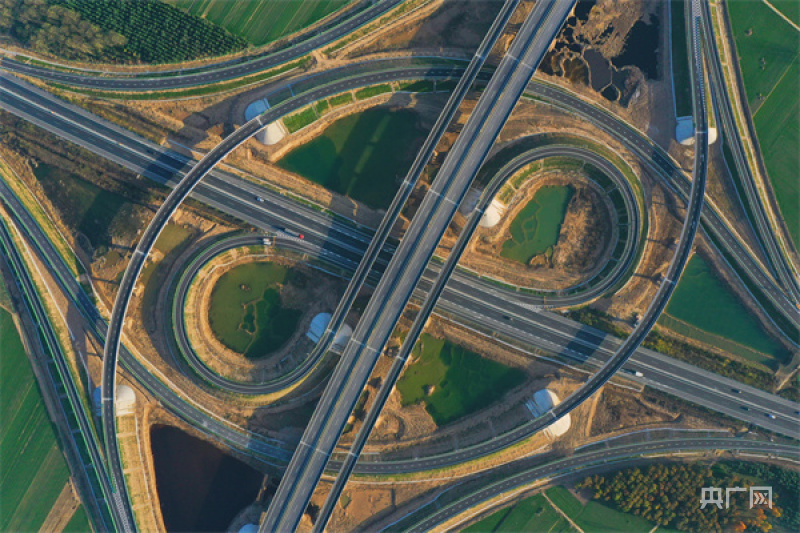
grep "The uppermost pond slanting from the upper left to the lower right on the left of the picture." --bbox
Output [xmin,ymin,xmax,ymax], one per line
[39,168,124,246]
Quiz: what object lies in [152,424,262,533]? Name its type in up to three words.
pond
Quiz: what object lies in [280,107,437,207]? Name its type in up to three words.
pond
